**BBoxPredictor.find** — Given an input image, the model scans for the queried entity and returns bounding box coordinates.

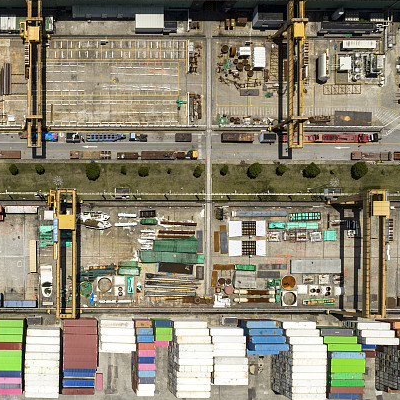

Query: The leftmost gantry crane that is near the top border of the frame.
[20,4,50,149]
